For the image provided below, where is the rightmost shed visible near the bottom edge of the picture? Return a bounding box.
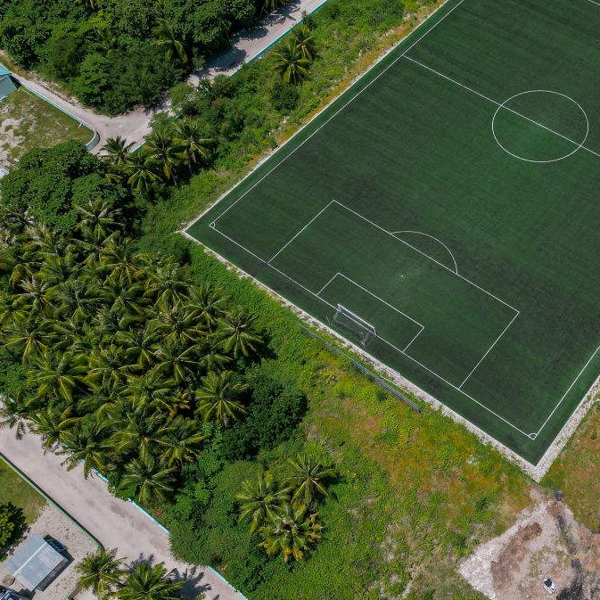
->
[4,531,71,591]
